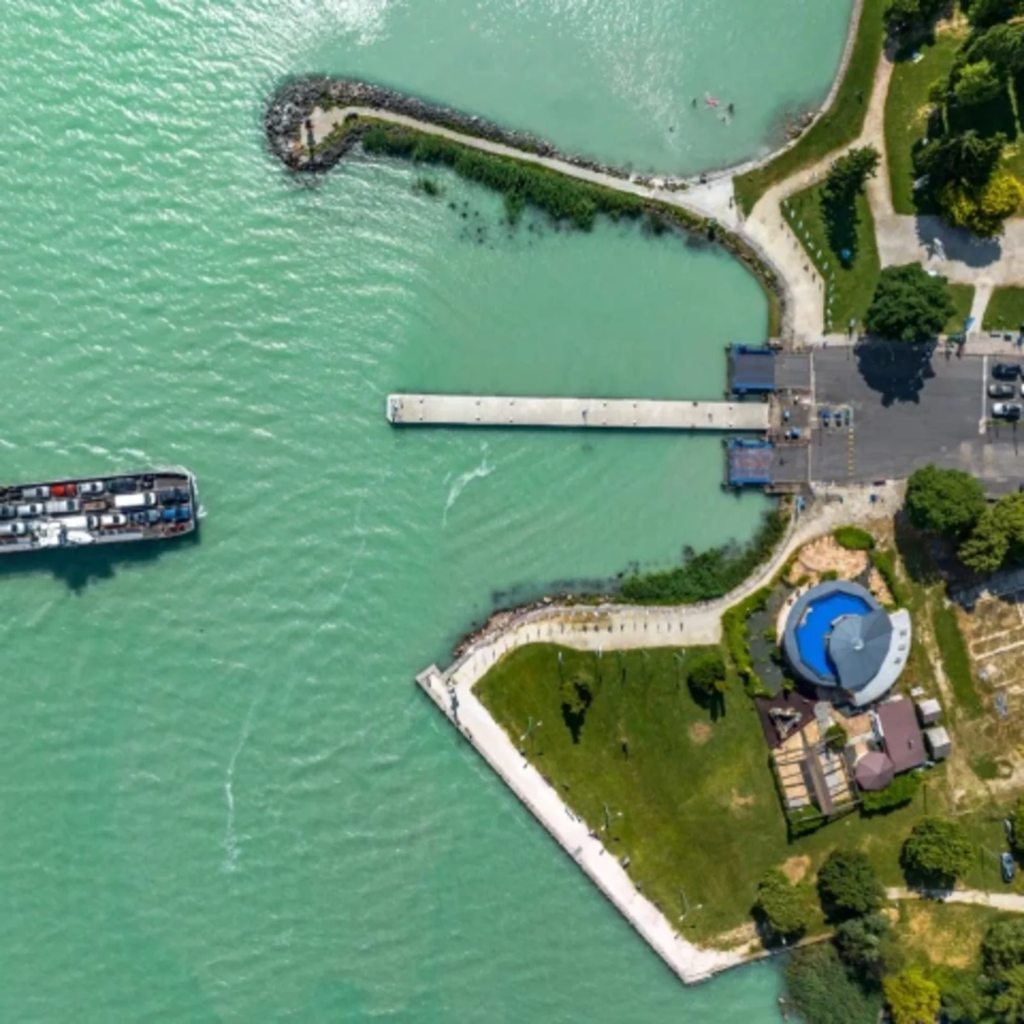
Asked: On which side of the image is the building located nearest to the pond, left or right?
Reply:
right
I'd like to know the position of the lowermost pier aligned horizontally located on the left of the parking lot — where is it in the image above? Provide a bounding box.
[387,396,771,430]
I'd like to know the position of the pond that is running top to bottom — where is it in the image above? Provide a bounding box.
[746,577,788,698]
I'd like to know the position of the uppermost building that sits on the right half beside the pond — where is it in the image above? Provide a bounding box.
[780,580,911,703]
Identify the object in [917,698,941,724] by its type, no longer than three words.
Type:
shed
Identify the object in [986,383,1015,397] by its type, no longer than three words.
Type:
car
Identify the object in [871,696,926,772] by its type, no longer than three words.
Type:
house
